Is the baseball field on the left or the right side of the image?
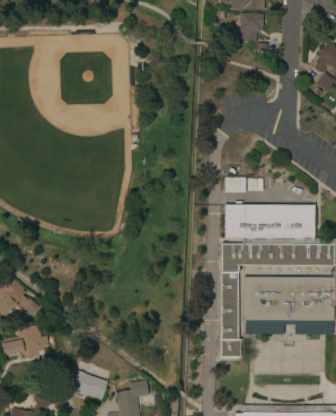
left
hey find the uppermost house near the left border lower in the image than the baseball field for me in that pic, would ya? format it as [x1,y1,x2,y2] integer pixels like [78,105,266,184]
[0,276,42,318]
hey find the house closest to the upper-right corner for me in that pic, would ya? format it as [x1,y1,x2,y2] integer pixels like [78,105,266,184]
[313,40,336,72]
